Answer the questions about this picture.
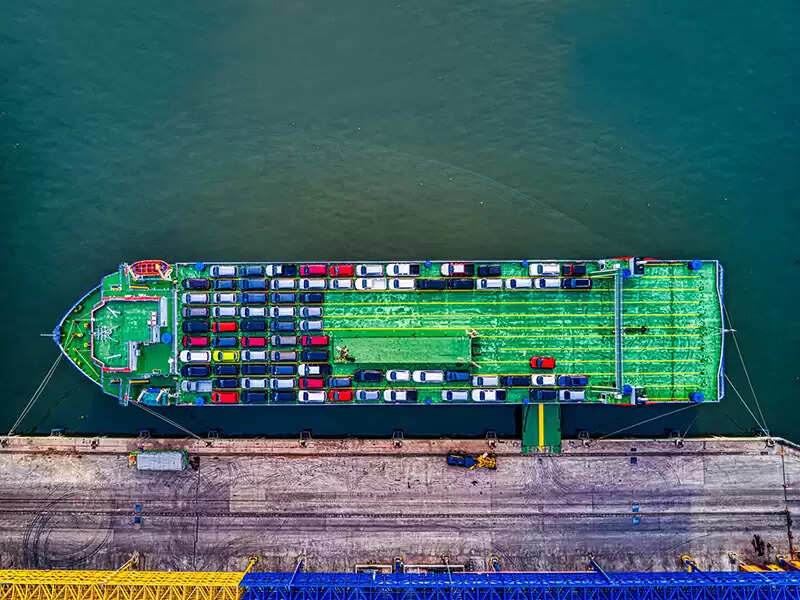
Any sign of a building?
No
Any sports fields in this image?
No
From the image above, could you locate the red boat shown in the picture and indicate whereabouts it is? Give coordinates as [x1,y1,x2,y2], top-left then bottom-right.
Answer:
[129,259,171,277]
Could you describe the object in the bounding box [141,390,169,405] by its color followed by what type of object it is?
blue boat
